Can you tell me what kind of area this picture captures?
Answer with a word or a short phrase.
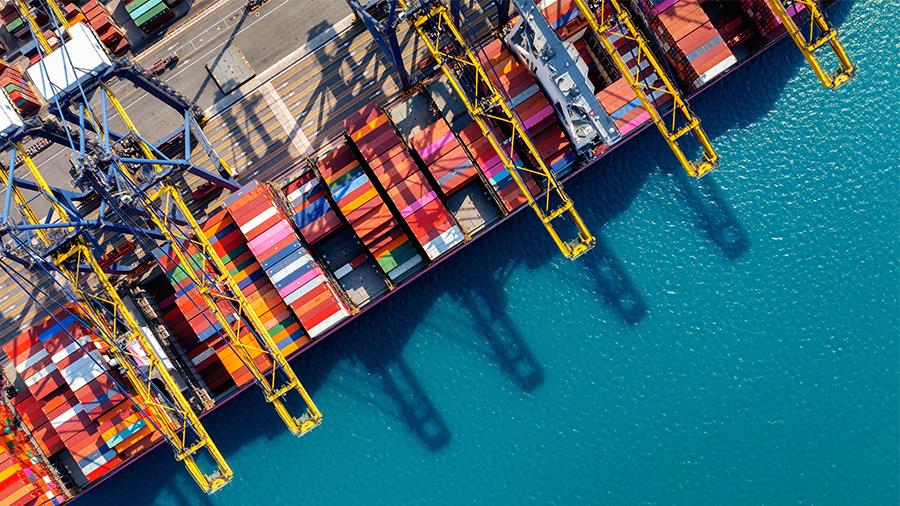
port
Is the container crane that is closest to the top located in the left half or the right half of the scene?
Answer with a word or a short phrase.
right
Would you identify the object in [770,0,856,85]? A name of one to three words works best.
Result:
container crane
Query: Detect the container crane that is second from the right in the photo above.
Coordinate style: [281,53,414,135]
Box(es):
[576,0,720,175]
